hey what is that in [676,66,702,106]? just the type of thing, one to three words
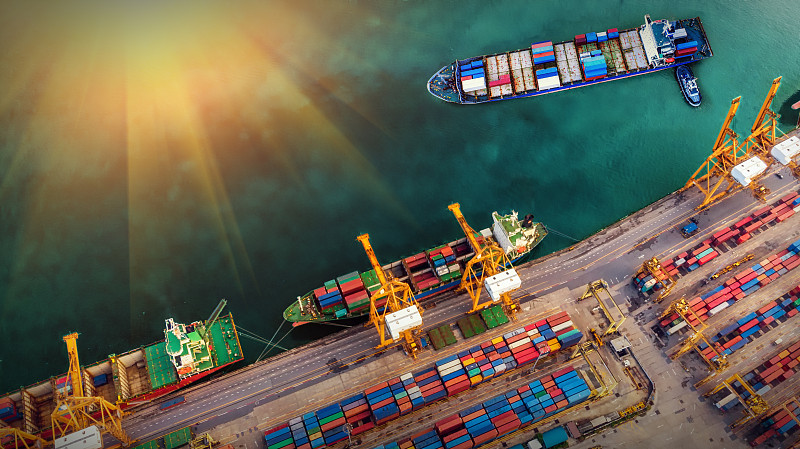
boat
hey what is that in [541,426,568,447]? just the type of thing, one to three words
shed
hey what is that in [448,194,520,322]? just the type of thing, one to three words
container crane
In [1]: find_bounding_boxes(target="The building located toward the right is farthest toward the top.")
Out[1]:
[608,333,634,360]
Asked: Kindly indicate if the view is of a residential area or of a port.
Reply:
port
